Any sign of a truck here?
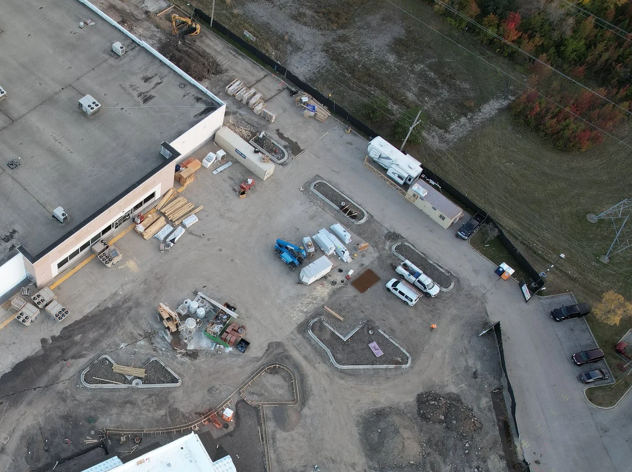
Yes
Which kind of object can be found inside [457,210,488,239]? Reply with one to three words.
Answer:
truck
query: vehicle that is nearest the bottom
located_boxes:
[576,368,611,386]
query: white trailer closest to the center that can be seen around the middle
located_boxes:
[293,255,334,287]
